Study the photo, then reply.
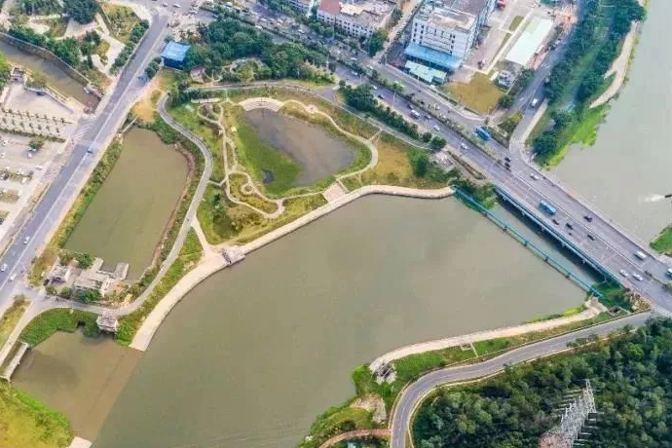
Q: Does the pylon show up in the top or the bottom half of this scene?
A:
bottom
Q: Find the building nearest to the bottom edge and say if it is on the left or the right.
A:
left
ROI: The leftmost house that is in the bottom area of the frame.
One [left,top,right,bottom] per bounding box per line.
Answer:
[50,266,72,286]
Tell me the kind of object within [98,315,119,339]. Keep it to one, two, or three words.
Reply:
building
